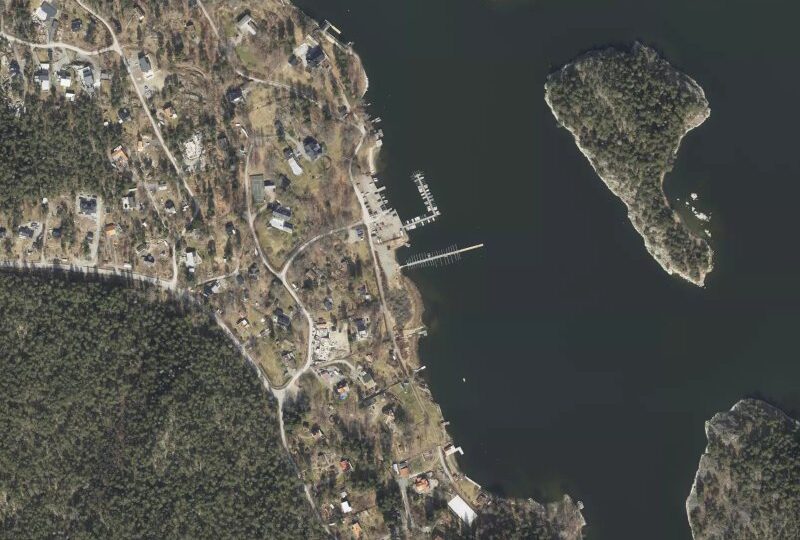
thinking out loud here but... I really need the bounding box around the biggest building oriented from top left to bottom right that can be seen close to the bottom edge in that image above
[448,495,478,525]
